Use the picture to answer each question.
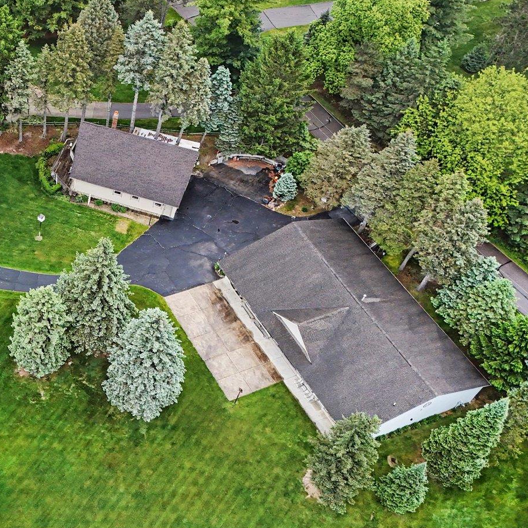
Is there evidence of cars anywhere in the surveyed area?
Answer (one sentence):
No, there is no car in the image.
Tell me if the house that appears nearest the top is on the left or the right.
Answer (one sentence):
You can find the house that appears nearest the top on the left side of the picture.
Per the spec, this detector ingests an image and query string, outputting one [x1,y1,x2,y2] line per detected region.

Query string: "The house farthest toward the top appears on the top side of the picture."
[70,99,198,222]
